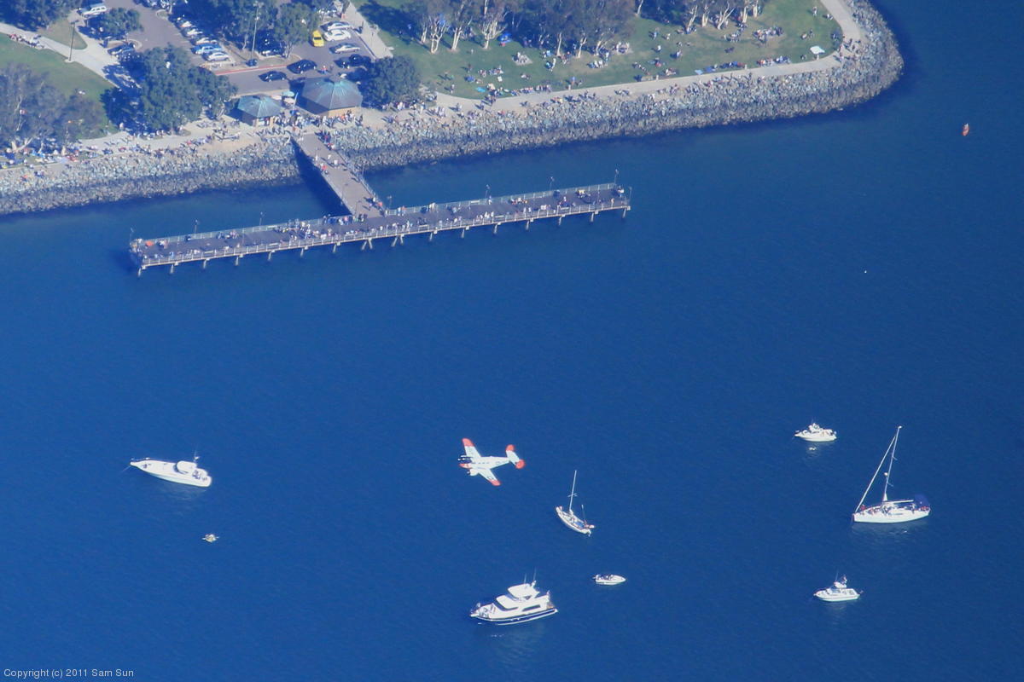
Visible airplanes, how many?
1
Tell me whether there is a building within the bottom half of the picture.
No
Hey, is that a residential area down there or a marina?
marina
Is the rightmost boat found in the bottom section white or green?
white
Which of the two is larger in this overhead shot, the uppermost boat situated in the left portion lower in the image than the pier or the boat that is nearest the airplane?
the uppermost boat situated in the left portion lower in the image than the pier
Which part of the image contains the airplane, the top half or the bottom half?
bottom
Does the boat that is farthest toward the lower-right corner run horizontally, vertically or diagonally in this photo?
horizontally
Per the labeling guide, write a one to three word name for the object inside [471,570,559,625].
boat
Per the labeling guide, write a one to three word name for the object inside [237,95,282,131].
building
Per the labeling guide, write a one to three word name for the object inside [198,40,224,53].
vehicle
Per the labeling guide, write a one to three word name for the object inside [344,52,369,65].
vehicle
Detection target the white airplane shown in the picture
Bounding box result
[457,439,524,489]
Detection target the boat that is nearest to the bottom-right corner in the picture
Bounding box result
[816,579,862,602]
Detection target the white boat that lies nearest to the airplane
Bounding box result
[559,469,594,533]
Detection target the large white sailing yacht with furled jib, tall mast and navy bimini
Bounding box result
[856,428,933,520]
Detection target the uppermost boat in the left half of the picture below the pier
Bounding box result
[119,457,211,490]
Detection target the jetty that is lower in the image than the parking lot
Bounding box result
[128,125,632,281]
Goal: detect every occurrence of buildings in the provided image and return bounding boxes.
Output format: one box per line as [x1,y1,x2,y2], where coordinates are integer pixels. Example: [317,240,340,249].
[301,78,364,124]
[237,95,282,131]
